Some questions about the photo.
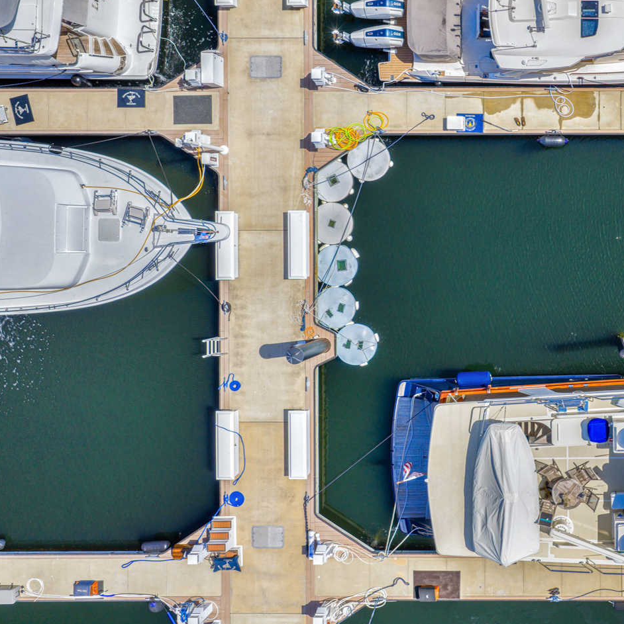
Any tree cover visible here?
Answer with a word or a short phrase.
No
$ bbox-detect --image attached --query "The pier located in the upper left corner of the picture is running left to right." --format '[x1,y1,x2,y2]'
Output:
[0,86,219,136]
